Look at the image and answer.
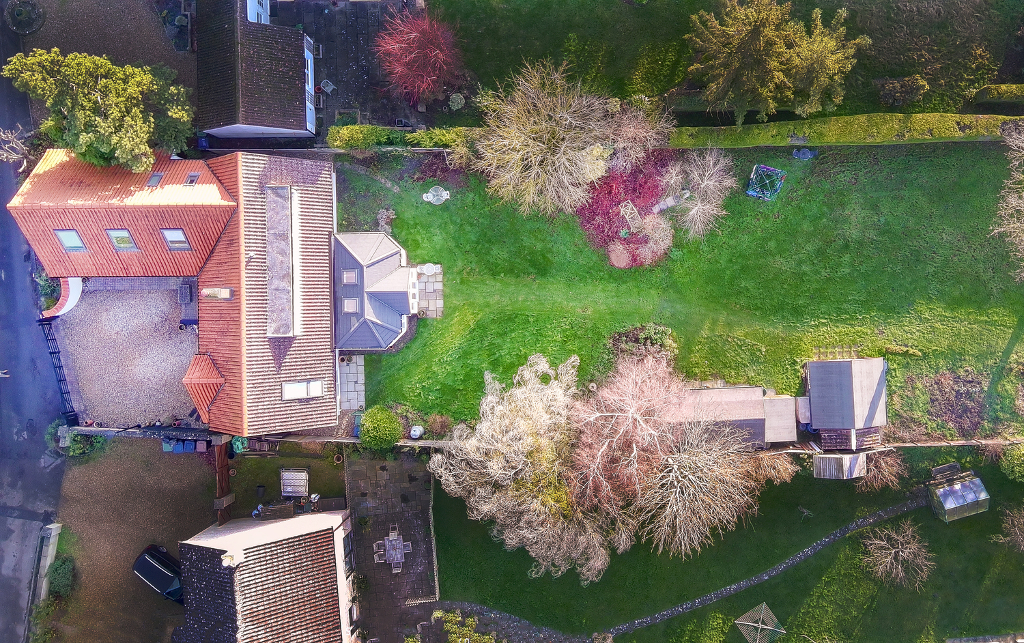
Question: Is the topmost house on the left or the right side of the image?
left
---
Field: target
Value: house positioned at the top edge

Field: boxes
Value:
[195,0,321,144]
